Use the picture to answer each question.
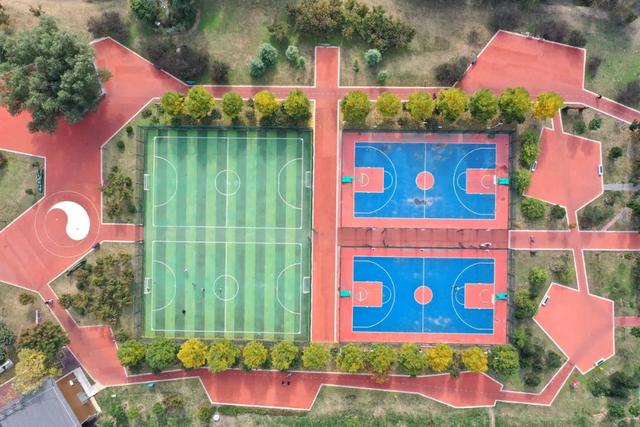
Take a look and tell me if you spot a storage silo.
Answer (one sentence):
No, the photo shows no storage silo.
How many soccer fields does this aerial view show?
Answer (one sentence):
I count 2 soccer fields.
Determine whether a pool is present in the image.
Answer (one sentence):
No, I can see no pool in this picture.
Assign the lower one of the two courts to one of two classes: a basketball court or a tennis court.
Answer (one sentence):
It looks like the lower one of the two courts is a basketball court.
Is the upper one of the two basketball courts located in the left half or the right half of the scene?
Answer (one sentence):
It is on the right.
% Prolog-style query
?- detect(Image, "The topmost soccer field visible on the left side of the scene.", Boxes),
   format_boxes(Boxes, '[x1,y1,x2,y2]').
[145,130,310,236]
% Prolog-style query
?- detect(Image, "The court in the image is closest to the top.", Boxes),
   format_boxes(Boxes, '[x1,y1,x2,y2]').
[339,131,509,229]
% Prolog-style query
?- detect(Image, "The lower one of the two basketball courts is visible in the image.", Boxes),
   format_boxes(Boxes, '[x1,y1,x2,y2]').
[339,246,508,345]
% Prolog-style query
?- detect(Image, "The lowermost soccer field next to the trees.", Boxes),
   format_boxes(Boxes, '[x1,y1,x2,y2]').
[144,234,310,339]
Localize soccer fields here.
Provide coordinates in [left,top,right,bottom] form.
[144,234,310,339]
[145,130,310,236]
